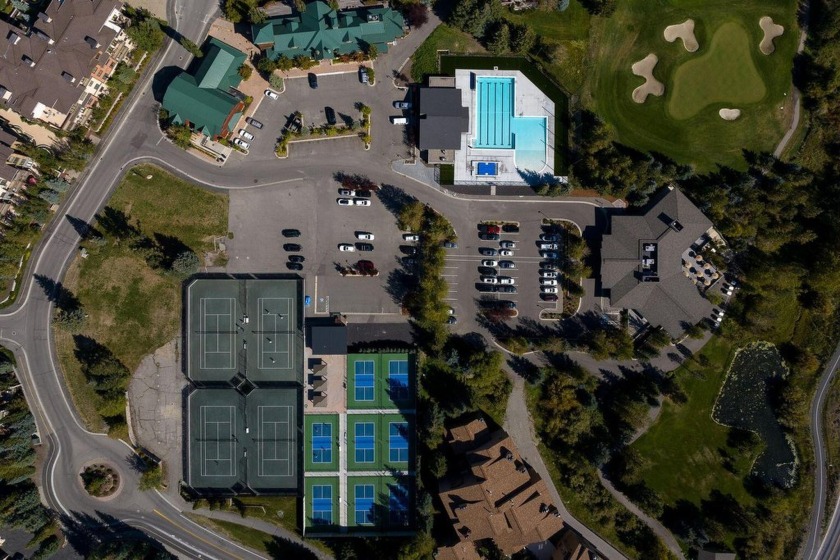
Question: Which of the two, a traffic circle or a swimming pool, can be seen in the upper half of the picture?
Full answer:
Visible in the upper half of the picture is a swimming pool.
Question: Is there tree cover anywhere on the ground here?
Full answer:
Yes, there's tree cover in this view.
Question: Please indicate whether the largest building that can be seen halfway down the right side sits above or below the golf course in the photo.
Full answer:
The position of the largest building that can be seen halfway down the right side is below the golf course.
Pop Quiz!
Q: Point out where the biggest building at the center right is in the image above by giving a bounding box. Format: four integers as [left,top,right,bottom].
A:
[600,188,713,341]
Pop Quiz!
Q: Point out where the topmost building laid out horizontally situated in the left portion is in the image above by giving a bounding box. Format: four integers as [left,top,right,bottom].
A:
[251,0,408,62]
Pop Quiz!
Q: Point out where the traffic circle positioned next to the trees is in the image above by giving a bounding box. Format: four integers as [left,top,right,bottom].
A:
[57,436,144,523]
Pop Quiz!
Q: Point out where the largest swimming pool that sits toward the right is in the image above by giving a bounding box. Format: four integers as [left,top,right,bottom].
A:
[471,75,549,178]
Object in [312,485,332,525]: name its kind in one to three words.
sports court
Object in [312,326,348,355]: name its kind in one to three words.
building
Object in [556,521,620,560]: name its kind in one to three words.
house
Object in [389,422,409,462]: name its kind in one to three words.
sports court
